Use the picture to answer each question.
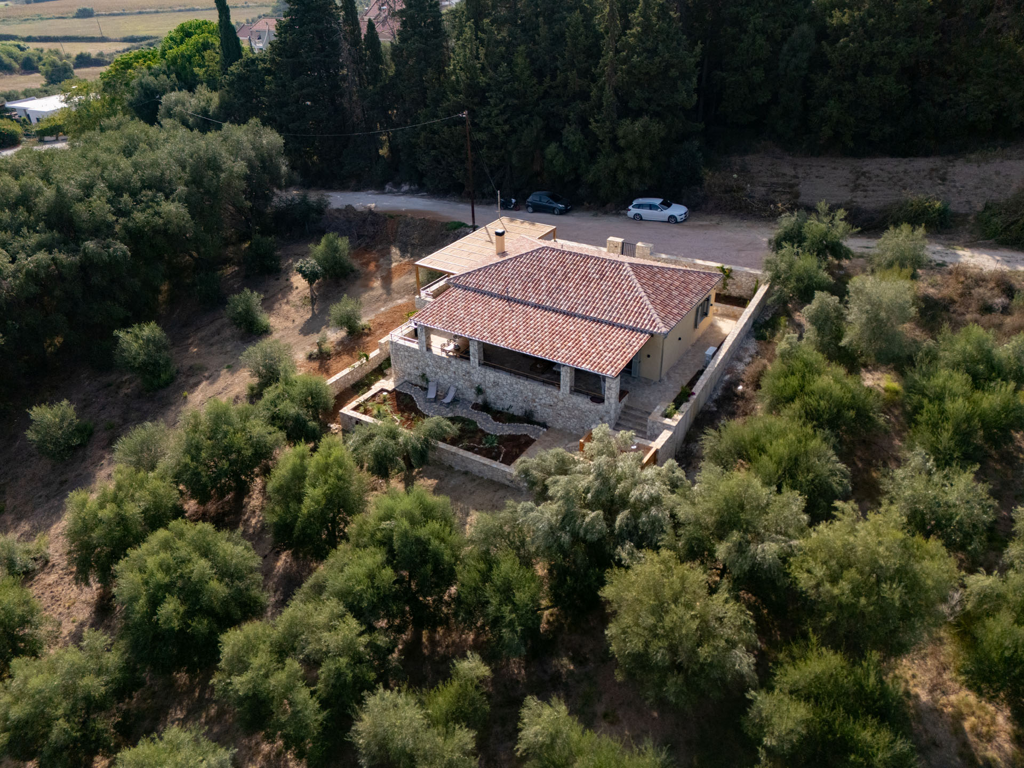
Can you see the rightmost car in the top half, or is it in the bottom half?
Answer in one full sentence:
Seen from above, the rightmost car lies in the top half of the view.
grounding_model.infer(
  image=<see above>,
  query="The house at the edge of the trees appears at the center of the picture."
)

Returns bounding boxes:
[409,231,723,409]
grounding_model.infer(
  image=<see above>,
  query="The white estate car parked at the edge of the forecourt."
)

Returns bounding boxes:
[627,198,687,223]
